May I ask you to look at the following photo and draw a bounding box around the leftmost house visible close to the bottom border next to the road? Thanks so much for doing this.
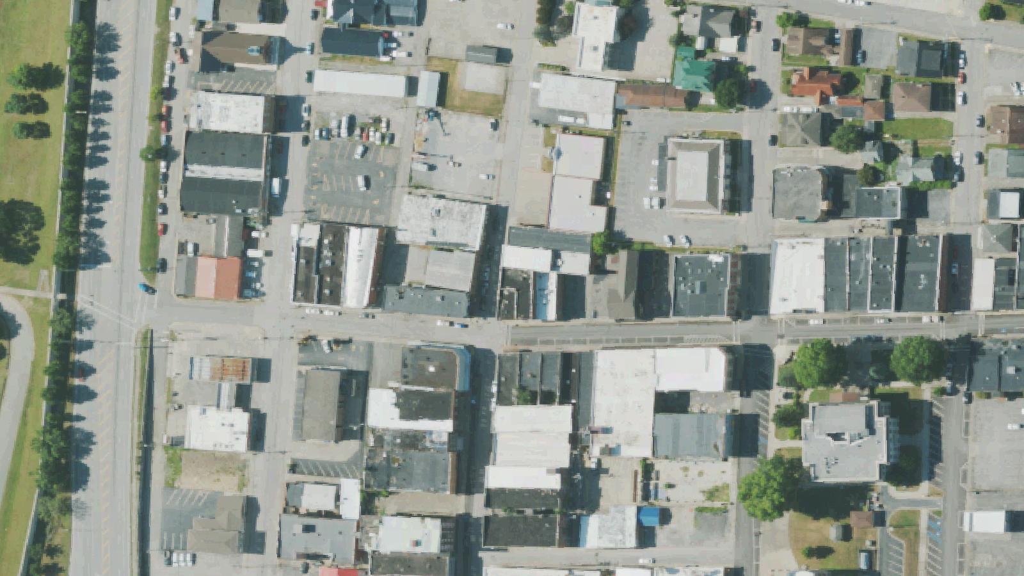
[188,496,247,554]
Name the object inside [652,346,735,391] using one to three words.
building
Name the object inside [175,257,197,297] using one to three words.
shed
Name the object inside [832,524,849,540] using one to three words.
gazebo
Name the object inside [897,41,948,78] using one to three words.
house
